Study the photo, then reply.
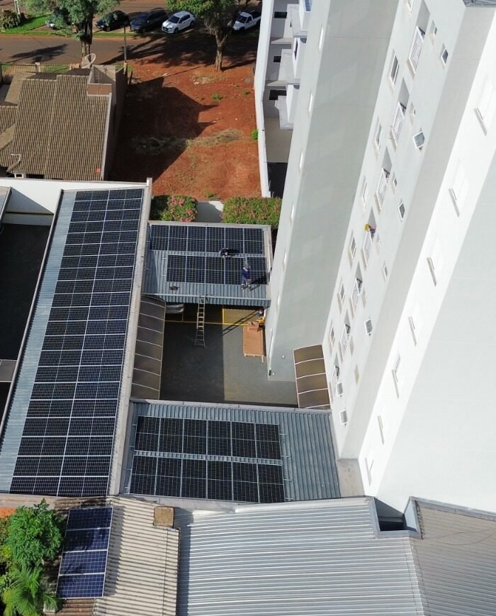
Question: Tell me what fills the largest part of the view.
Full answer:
The bulk of the photo consists of buildings.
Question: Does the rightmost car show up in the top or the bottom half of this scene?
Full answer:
Seen from above, the rightmost car lies in the top half of the view.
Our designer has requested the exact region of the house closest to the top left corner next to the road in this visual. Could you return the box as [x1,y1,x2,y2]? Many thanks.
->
[0,45,136,182]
